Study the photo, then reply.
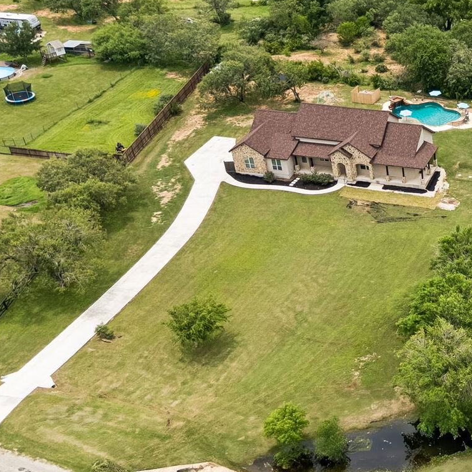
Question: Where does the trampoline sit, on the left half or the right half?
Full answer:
You can find the trampoline on the left side of the picture.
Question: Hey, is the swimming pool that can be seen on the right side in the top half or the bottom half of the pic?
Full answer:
It is in the top half that the swimming pool that can be seen on the right side appears.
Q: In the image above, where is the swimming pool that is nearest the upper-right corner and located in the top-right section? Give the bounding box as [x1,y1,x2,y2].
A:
[378,89,463,126]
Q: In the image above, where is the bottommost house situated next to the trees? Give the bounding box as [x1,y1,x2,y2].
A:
[225,103,438,191]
